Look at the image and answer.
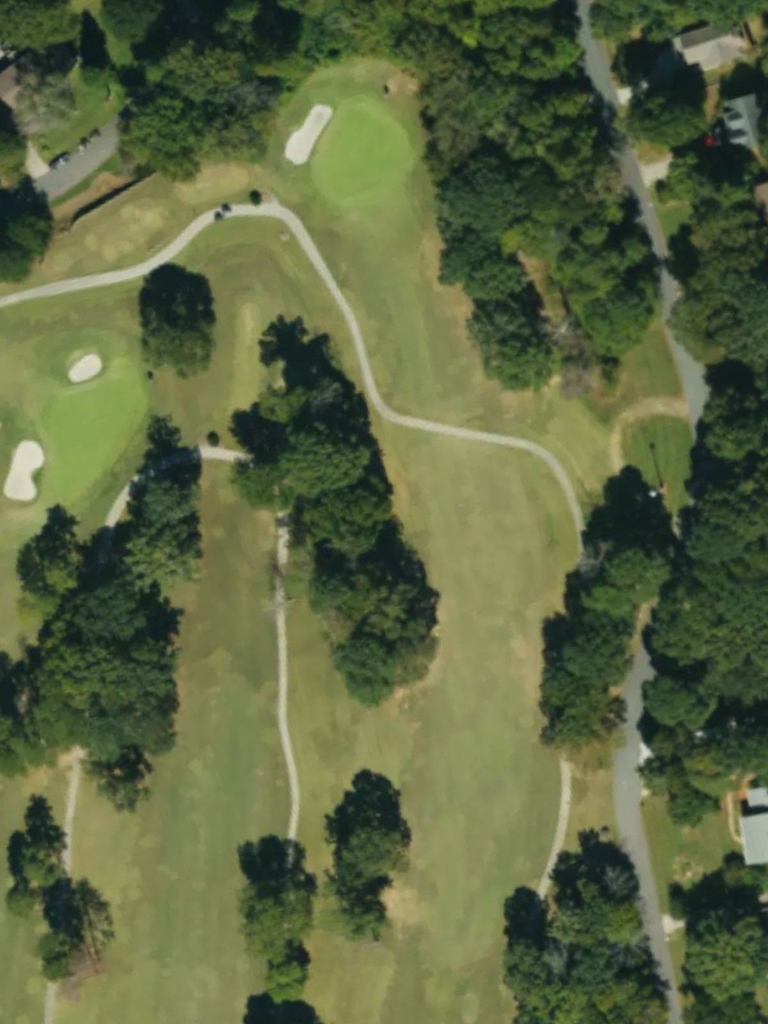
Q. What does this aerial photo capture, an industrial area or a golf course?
golf course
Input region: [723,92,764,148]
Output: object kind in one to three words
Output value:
house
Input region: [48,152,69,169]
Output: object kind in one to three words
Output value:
car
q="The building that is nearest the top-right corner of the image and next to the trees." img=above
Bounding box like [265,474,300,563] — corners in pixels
[673,27,748,76]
